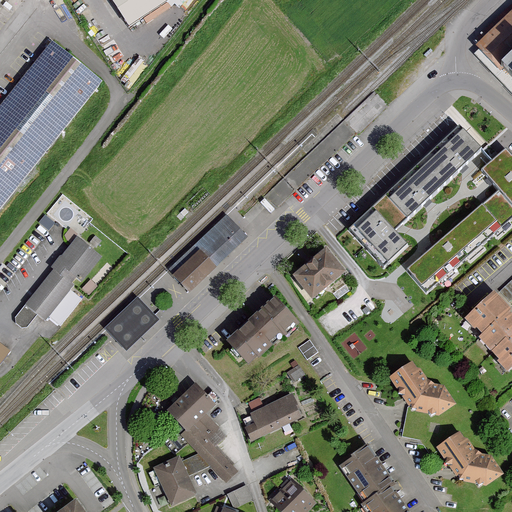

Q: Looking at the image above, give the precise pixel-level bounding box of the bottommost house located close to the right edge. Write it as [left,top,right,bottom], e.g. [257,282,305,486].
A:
[438,432,504,486]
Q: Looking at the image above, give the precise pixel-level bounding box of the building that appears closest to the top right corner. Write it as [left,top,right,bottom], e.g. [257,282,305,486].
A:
[476,9,512,76]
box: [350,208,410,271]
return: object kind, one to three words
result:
building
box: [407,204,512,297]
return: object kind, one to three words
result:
house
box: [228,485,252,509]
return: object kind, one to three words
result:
building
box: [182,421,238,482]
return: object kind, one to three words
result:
barn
